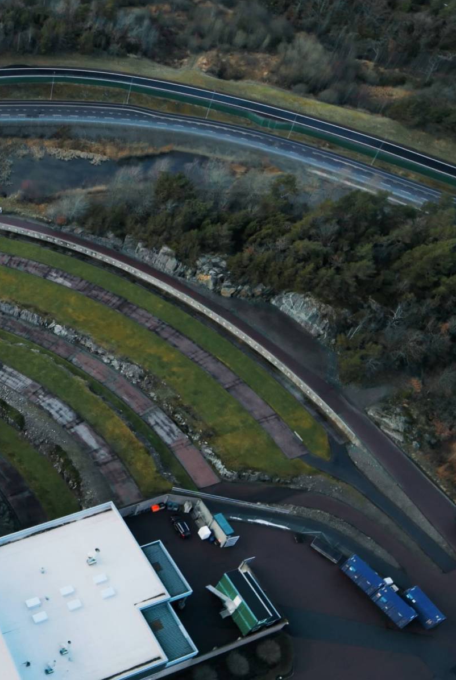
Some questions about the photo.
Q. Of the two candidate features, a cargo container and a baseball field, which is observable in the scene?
cargo container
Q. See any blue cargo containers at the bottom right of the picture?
Yes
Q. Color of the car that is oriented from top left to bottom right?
black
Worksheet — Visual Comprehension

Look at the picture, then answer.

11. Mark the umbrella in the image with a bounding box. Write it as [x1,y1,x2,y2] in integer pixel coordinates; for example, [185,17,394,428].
[197,528,210,541]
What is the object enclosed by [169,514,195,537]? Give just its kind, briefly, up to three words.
car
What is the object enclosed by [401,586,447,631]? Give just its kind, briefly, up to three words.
shipping container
